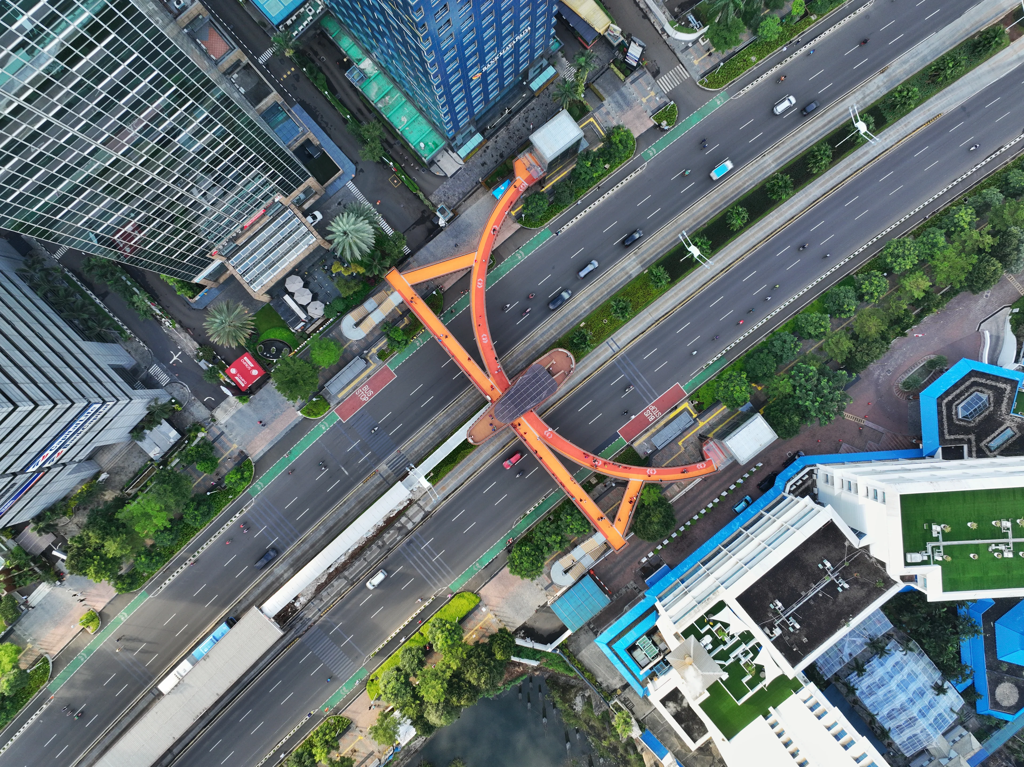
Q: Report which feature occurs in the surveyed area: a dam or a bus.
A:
bus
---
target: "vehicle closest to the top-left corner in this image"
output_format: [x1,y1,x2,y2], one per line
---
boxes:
[306,207,326,227]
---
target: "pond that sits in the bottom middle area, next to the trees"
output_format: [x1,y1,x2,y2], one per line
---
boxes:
[391,677,600,767]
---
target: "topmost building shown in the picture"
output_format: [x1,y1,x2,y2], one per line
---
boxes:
[558,0,612,49]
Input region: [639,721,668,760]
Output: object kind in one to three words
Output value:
shed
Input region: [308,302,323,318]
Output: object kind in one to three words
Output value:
umbrella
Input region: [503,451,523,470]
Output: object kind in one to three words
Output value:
car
